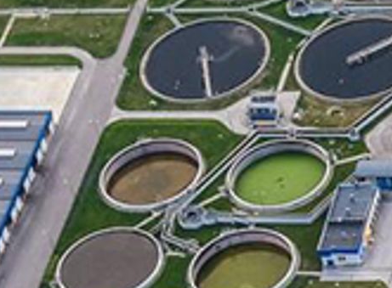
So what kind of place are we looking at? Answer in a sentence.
This looks like an industrial area.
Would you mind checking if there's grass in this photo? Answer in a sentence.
Yes, grass shows up in the scene.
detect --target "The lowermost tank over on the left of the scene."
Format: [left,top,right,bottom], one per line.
[56,225,165,288]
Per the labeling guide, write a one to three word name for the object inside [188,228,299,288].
storage tank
